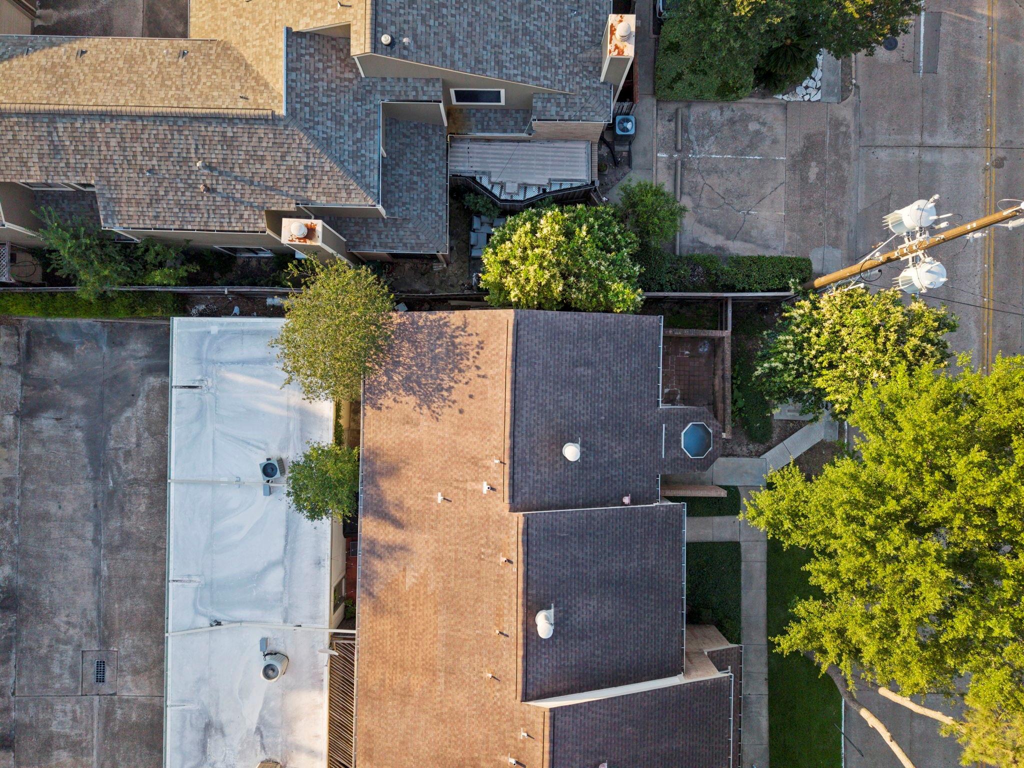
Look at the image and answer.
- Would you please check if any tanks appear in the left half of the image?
No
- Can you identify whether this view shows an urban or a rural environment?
urban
